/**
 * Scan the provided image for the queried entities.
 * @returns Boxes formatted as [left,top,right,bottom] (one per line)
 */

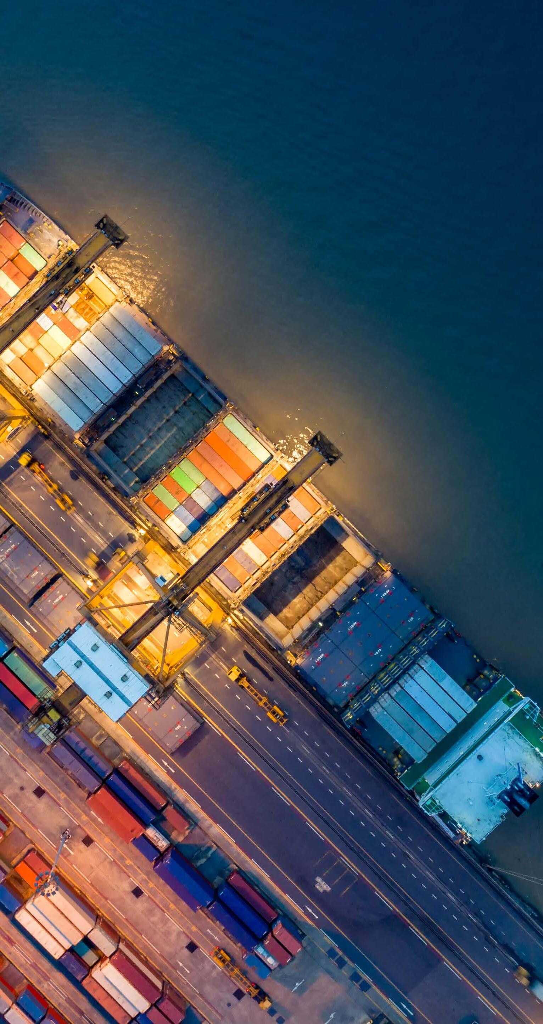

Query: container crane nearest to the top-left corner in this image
[0,214,134,501]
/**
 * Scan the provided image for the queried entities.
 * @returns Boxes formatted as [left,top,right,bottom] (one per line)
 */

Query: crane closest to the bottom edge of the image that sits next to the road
[22,431,348,746]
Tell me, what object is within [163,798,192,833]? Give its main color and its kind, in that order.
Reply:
red shipping container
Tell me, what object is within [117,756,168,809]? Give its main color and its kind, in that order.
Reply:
red shipping container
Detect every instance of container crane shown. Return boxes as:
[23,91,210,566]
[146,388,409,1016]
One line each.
[22,431,348,746]
[0,214,134,501]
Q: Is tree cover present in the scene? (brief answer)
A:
No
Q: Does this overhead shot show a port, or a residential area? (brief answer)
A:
port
